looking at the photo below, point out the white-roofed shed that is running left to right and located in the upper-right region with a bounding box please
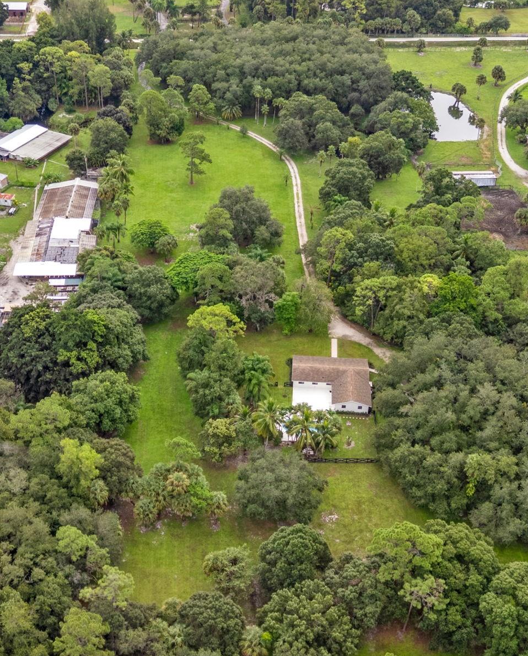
[449,170,496,189]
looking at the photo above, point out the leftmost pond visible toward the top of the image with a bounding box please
[425,92,482,141]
